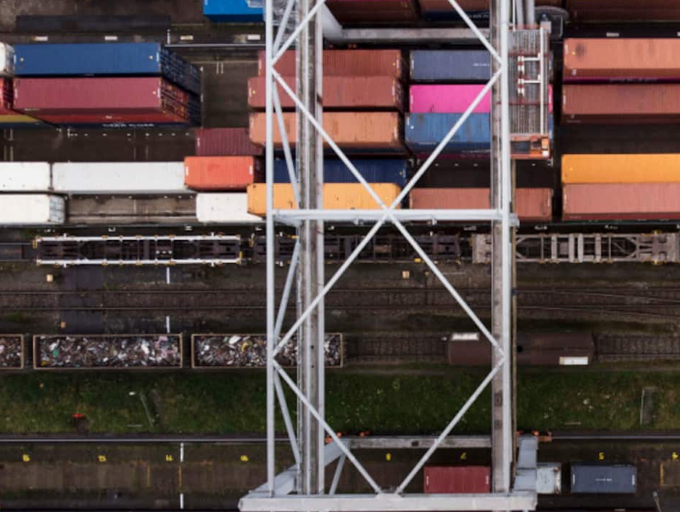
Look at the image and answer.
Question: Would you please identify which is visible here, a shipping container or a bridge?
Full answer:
This aerial view contains a shipping container.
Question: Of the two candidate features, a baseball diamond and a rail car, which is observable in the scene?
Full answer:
There is a rail car in the scene.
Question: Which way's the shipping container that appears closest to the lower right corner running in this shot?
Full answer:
In this picture, the shipping container that appears closest to the lower right corner lies from left to right.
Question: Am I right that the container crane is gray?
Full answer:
Yes, the container crane is gray.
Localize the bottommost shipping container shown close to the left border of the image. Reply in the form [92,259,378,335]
[0,194,67,224]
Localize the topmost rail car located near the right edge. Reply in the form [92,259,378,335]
[468,233,680,265]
